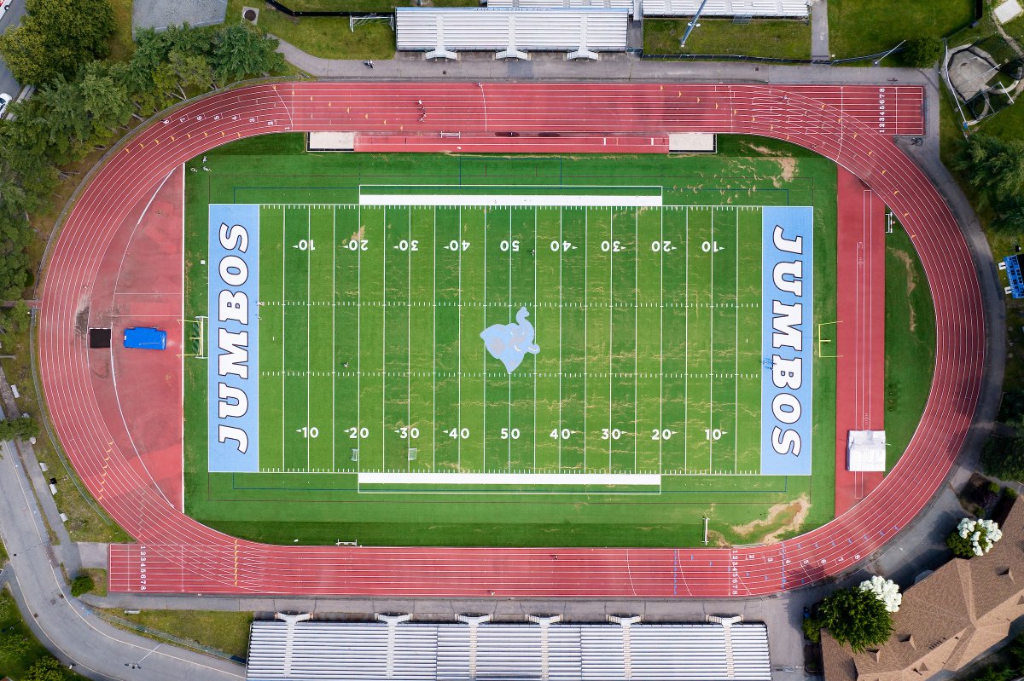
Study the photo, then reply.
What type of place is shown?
sports ground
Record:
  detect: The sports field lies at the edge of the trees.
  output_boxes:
[184,132,936,547]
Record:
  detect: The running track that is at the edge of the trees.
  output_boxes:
[38,81,987,597]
